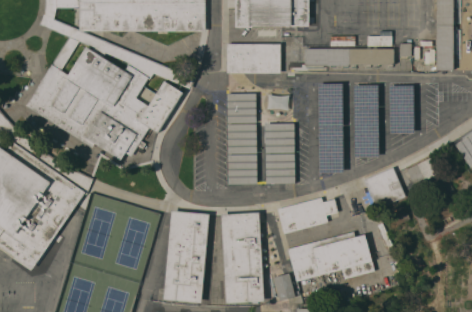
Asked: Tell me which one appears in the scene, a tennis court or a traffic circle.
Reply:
tennis court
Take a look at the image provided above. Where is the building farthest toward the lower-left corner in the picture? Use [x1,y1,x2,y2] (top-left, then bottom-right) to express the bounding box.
[0,142,84,270]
